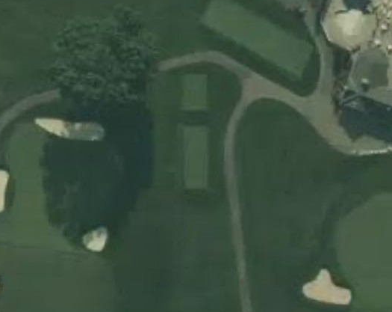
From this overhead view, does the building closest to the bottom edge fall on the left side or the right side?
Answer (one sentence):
The building closest to the bottom edge appears in the right half of the scene.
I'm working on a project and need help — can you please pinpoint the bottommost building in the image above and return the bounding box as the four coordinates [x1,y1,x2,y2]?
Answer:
[332,49,392,129]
